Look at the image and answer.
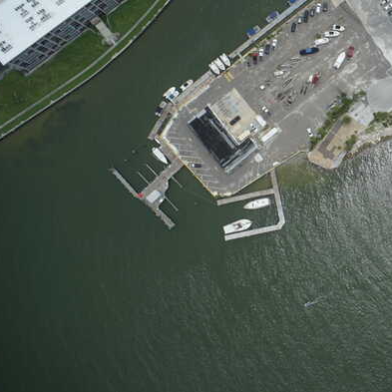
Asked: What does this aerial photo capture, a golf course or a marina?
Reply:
marina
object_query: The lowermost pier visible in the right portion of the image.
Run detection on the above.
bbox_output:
[217,167,286,241]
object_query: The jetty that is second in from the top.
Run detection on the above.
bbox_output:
[147,69,216,138]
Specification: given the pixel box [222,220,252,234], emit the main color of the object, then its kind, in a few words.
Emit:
white boat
